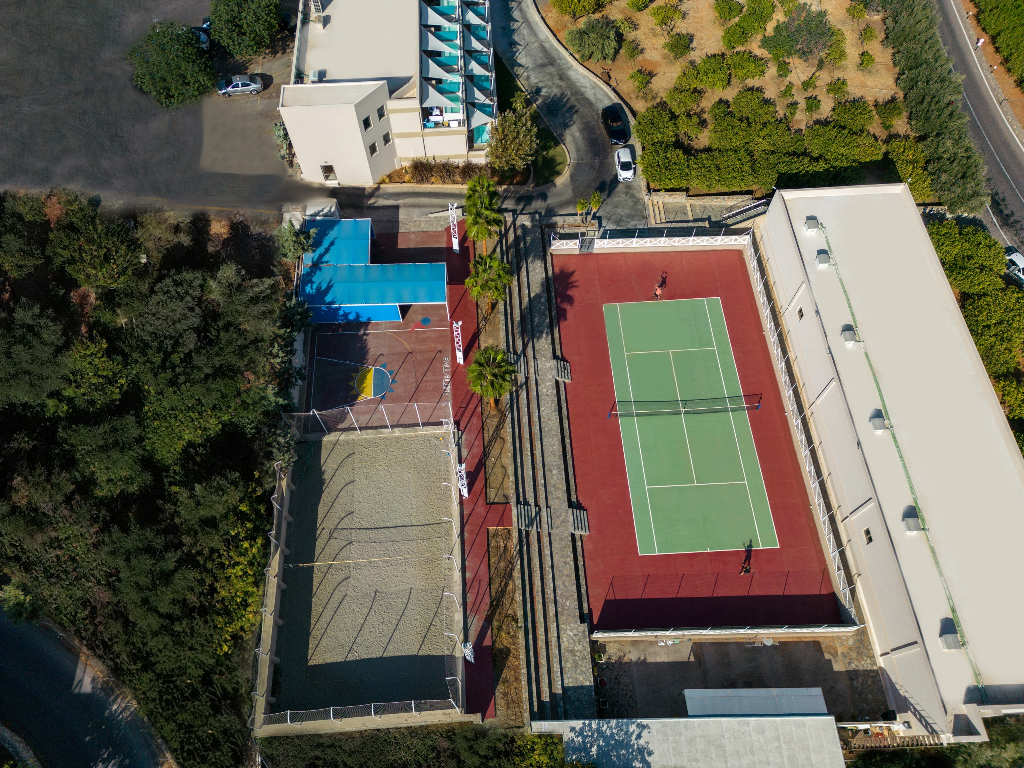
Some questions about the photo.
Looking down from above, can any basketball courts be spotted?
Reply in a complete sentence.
Yes, the frame does contain a basketball court.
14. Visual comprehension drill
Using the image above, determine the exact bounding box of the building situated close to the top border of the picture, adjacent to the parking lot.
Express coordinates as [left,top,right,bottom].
[278,0,498,186]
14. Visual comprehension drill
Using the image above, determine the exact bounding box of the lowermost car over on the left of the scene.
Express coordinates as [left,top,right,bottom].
[217,73,263,99]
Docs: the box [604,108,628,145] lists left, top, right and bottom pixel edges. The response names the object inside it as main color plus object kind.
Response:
black car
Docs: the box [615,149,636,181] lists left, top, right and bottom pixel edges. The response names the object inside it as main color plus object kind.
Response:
white car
